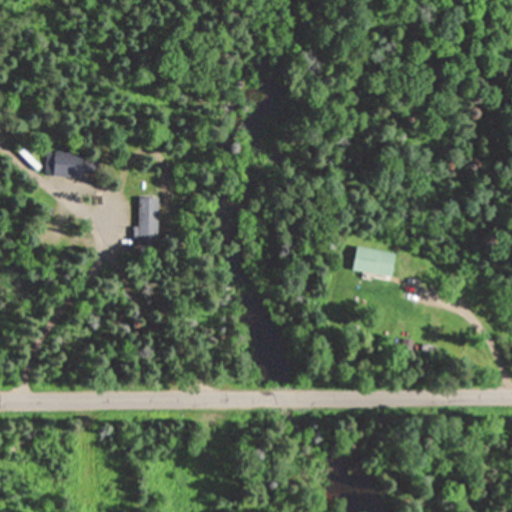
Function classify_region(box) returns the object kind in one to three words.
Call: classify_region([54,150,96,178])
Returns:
house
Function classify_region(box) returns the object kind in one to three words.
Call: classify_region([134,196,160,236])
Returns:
house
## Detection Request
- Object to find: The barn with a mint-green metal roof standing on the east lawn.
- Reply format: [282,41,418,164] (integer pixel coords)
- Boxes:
[354,246,396,276]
